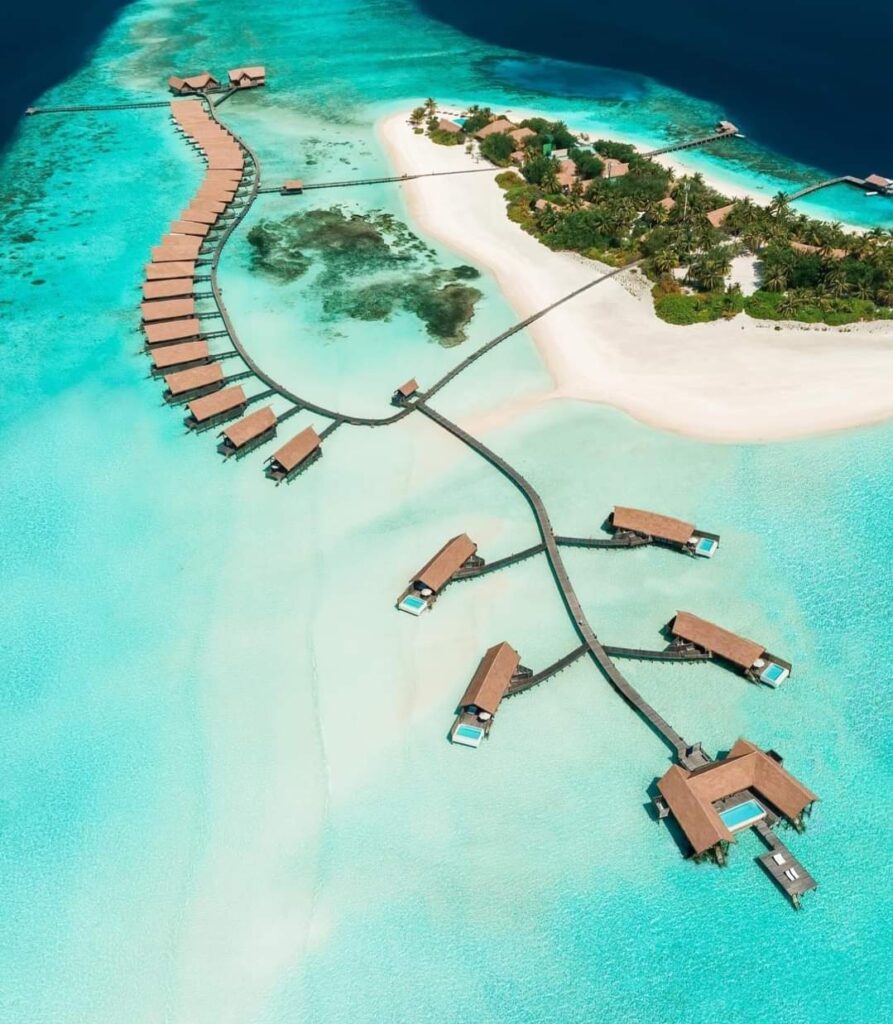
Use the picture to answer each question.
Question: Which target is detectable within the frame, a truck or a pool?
pool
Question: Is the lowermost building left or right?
right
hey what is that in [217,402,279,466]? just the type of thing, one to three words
house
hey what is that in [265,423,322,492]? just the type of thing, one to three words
house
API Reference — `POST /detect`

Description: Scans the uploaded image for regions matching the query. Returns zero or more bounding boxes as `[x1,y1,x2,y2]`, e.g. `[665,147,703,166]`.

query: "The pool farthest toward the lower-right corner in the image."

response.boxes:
[718,797,766,832]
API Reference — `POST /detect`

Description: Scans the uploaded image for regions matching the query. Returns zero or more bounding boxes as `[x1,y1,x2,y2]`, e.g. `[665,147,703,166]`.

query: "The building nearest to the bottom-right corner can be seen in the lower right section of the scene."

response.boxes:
[645,737,815,876]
